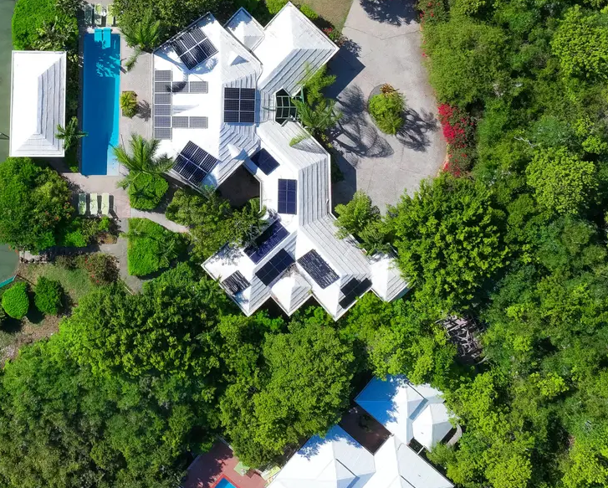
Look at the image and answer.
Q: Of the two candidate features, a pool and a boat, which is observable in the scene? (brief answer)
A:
pool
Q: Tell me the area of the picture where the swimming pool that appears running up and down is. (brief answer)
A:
top left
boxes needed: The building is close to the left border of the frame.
[8,49,69,159]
